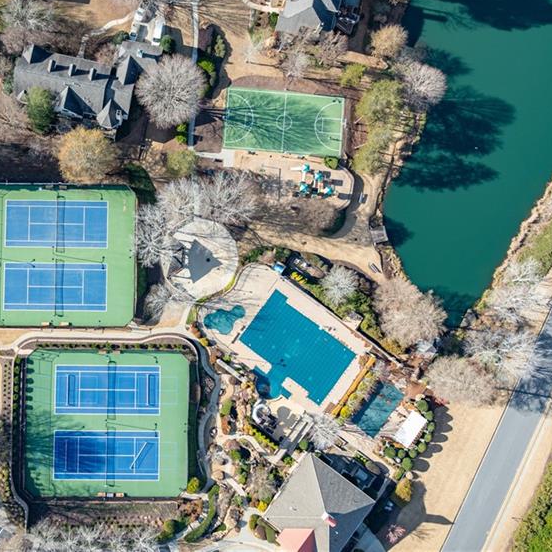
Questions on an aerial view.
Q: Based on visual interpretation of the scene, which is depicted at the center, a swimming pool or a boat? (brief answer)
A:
swimming pool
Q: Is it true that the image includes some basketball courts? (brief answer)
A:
Yes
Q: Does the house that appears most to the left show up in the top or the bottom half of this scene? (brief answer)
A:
top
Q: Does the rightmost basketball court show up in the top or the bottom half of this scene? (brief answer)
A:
top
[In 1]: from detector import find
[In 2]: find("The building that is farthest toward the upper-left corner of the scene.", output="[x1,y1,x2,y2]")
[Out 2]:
[10,35,166,132]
